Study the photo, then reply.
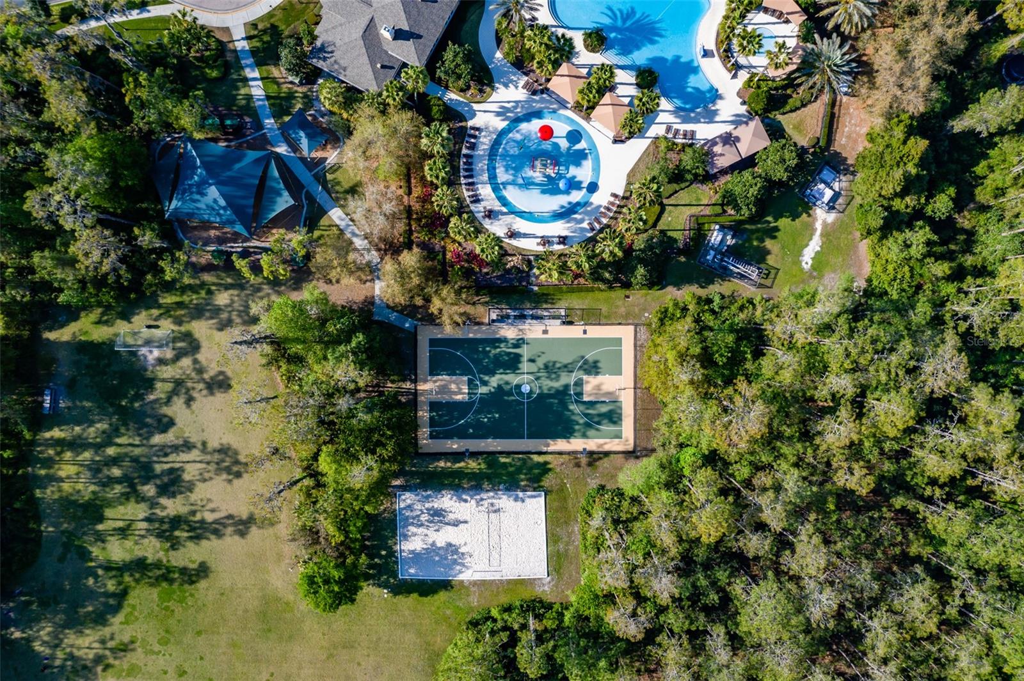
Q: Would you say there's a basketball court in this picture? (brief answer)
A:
Yes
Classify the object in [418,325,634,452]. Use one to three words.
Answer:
basketball court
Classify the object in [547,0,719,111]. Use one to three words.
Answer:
swimming pool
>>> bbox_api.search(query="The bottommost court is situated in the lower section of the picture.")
[397,491,548,580]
